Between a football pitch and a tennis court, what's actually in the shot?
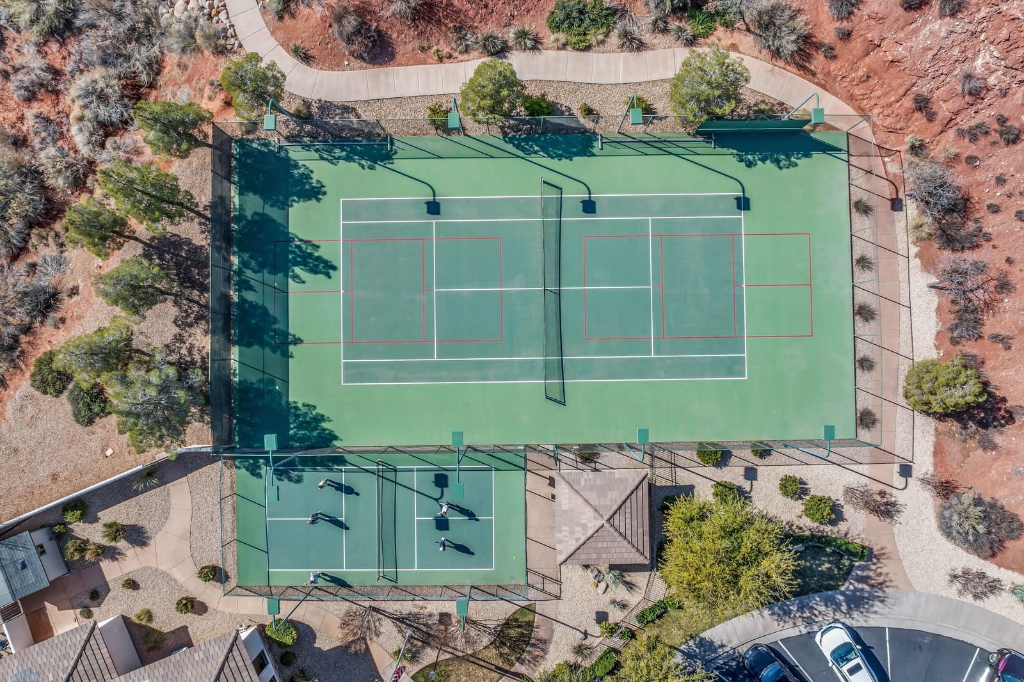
tennis court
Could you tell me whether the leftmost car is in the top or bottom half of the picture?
bottom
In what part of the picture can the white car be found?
bottom right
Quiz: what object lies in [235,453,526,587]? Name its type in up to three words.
sports court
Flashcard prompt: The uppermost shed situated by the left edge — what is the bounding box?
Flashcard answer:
[0,527,70,608]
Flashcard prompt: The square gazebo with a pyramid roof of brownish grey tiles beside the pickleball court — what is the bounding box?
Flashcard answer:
[554,466,653,568]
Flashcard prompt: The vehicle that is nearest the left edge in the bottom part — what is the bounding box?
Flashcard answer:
[742,637,809,682]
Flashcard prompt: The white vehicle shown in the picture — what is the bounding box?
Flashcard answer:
[815,622,876,682]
